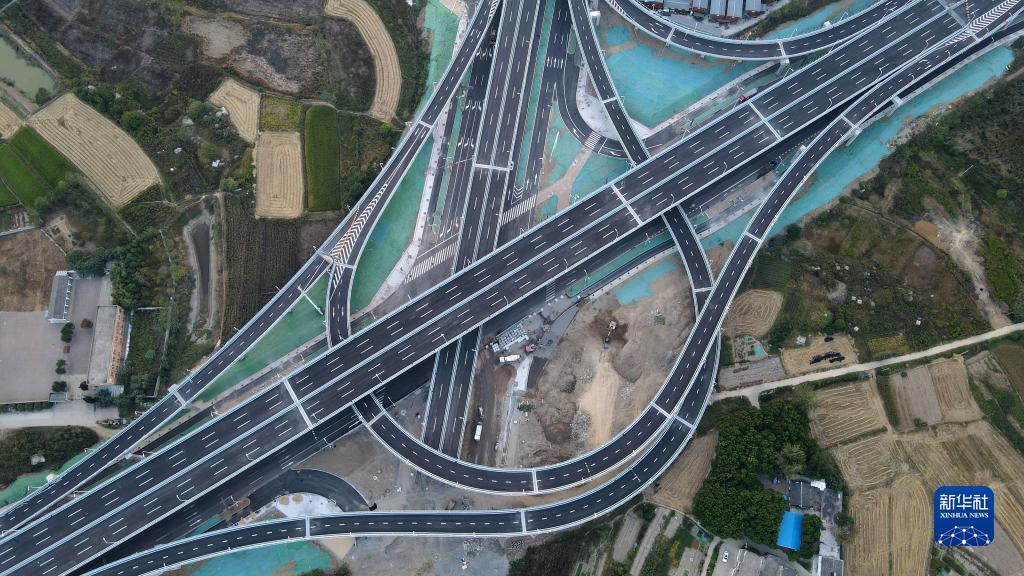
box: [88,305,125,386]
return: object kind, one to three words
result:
building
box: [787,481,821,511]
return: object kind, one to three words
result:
house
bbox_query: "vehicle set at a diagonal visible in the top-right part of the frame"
[742,85,760,99]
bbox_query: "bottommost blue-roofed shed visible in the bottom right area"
[774,512,803,551]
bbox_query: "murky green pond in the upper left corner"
[0,36,58,100]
